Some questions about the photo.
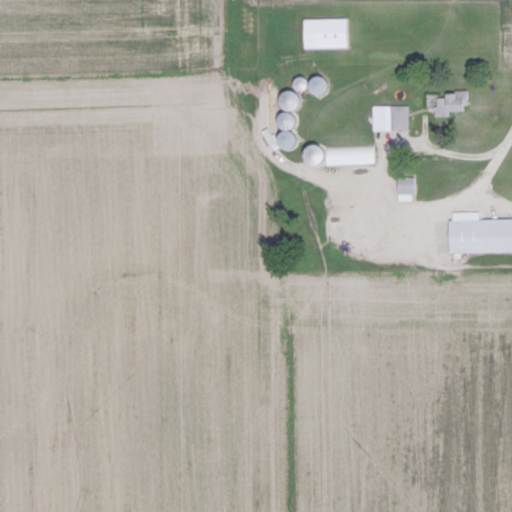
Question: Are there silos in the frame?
Yes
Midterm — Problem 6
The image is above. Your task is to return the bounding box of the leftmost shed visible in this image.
[304,19,347,50]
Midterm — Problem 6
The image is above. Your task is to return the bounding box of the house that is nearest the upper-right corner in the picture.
[426,90,472,118]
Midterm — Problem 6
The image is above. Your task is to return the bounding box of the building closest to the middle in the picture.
[326,148,375,166]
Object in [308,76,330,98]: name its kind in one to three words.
silo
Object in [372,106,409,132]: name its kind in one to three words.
building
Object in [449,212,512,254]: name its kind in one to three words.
barn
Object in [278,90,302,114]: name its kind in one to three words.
silo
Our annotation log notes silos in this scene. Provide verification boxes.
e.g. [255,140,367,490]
[302,144,326,168]
[292,76,308,94]
[278,90,302,114]
[277,130,300,153]
[276,112,298,132]
[308,76,330,98]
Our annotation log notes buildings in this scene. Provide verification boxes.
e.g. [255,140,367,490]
[372,106,409,132]
[304,19,347,50]
[398,178,414,202]
[449,212,512,254]
[326,148,375,166]
[426,90,472,118]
